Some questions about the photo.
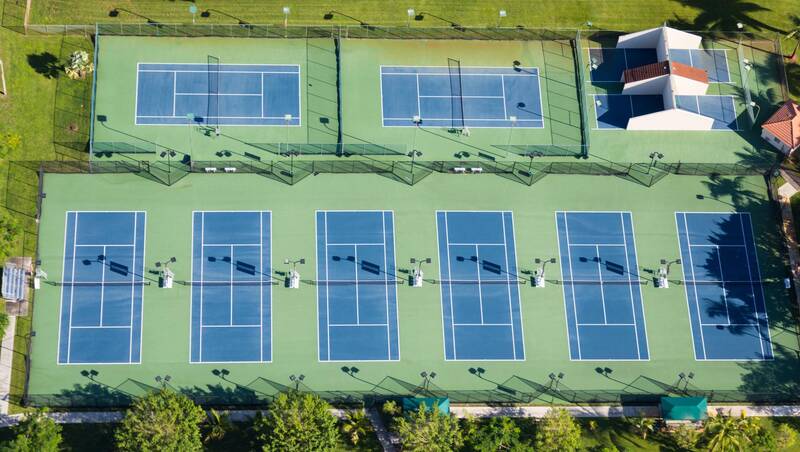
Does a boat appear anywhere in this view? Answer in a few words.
No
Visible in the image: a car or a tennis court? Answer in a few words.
tennis court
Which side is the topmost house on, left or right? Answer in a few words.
right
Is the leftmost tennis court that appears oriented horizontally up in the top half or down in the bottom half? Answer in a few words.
top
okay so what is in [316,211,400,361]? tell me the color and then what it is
blue tennis court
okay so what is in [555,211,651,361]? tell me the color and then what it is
blue tennis court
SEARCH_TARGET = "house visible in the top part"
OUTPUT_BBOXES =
[762,94,800,157]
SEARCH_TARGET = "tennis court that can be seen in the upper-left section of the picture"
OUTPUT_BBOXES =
[136,64,299,126]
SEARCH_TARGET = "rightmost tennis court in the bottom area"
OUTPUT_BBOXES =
[674,211,775,361]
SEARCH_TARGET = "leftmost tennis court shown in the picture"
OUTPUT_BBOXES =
[59,212,145,361]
